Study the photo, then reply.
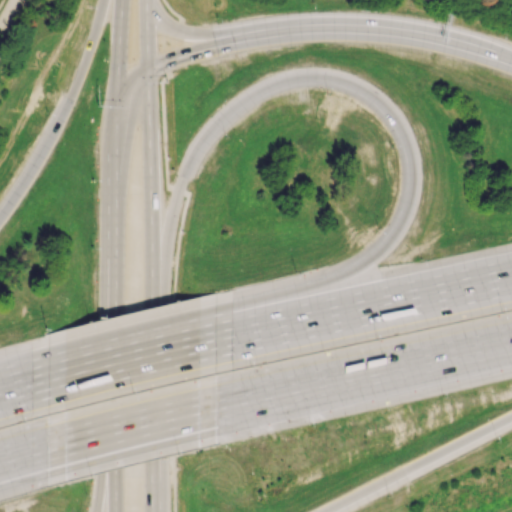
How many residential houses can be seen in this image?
none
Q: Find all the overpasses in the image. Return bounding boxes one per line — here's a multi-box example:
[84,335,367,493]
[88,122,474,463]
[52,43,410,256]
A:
[49,294,216,486]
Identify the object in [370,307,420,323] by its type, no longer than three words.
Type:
vehicle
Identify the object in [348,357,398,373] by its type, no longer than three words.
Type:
vehicle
